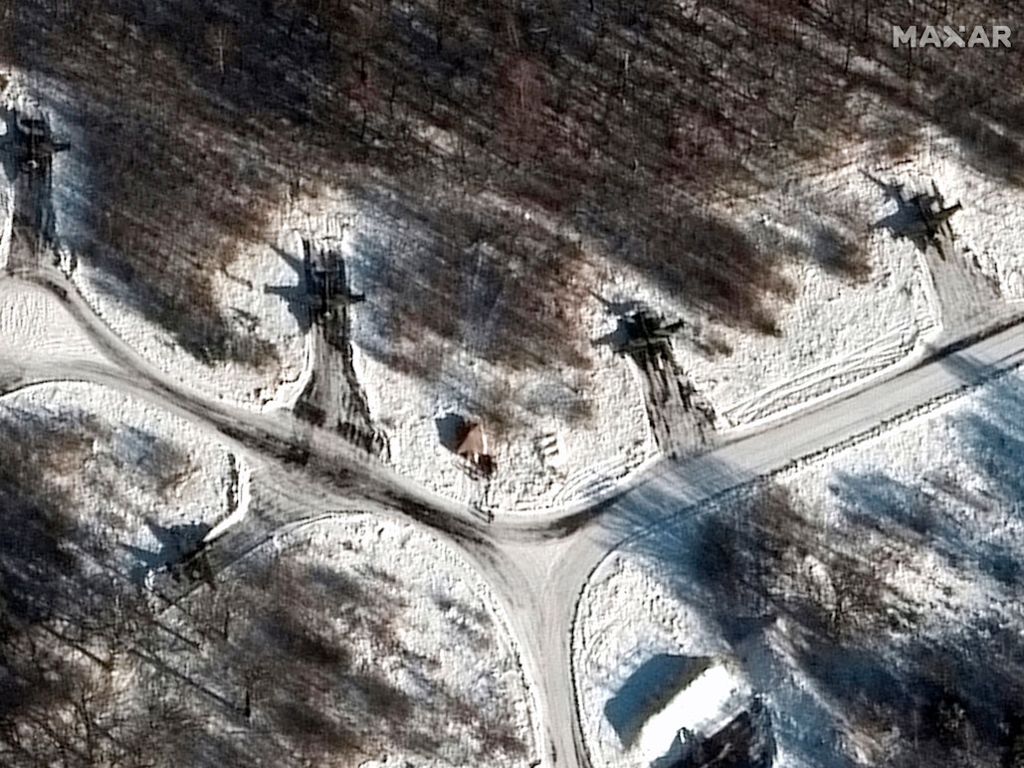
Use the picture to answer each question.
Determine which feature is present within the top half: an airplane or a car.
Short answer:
airplane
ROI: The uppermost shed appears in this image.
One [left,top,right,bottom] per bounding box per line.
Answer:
[458,420,488,471]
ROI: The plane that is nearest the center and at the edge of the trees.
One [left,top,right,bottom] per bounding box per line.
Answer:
[605,295,686,371]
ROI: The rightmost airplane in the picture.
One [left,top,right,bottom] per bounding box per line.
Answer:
[881,179,961,251]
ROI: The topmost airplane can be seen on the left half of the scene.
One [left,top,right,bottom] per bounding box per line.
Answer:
[0,110,74,184]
